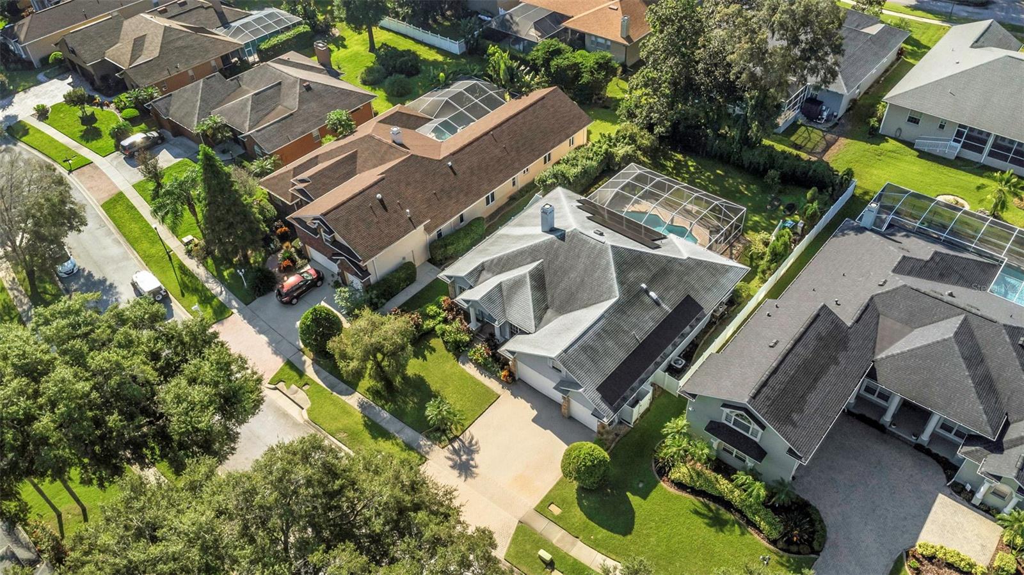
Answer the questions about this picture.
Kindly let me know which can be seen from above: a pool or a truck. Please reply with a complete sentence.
There is a pool in the scene.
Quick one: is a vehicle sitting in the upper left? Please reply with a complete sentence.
Yes, there is a vehicle in the upper left.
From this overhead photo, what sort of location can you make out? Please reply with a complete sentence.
The area seen from above is a residential area.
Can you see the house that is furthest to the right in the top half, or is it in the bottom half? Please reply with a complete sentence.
You can find the house that is furthest to the right in the top half.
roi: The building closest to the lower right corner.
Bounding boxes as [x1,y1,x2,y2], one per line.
[678,193,1024,520]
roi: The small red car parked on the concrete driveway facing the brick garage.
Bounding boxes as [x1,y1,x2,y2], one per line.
[270,265,320,297]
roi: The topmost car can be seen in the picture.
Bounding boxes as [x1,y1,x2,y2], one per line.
[115,129,165,155]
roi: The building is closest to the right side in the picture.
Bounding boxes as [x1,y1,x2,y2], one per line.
[882,18,1024,172]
